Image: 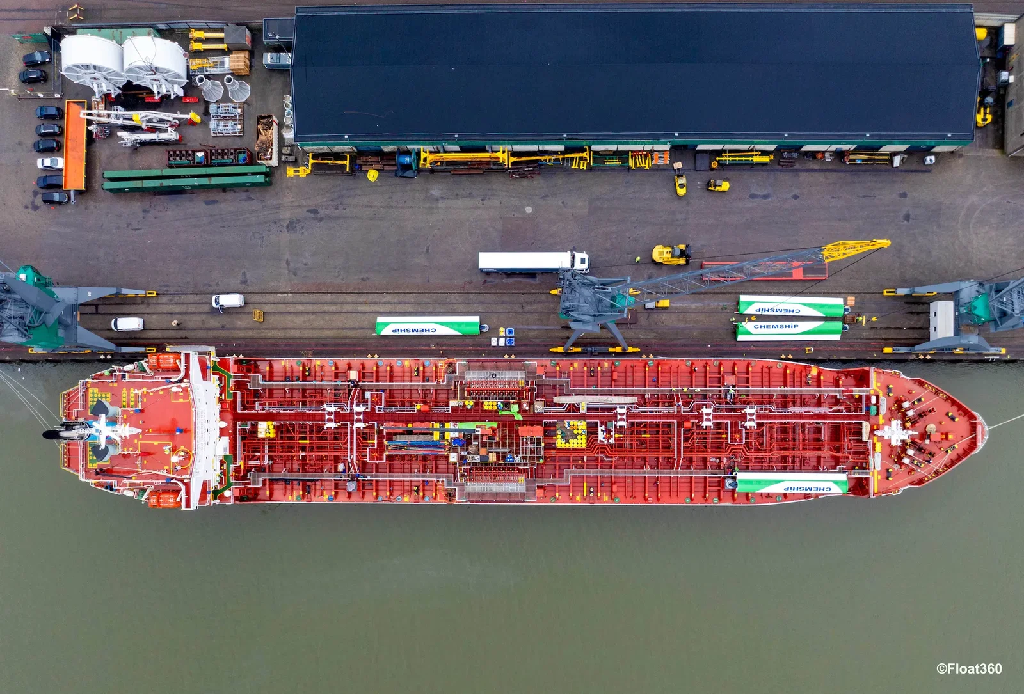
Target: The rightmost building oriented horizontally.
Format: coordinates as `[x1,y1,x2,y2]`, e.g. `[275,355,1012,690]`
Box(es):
[291,5,980,158]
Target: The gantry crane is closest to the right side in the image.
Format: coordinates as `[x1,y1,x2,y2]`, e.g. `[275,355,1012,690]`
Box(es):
[888,273,1024,353]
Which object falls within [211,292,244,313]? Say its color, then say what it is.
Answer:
white vehicle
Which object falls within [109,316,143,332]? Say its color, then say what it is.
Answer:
white vehicle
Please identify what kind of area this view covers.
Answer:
port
